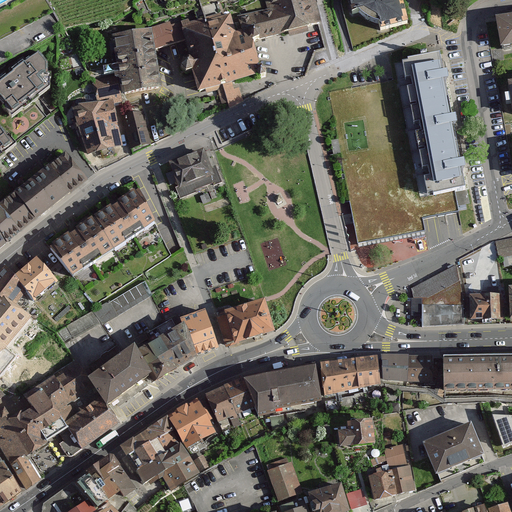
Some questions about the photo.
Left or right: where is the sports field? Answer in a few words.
right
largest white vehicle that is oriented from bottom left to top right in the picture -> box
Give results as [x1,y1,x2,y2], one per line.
[95,430,119,448]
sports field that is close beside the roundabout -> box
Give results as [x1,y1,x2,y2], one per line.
[330,67,458,250]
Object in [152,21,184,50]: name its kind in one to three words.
shed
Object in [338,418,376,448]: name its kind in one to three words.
house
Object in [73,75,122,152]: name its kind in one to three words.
house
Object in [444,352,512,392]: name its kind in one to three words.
building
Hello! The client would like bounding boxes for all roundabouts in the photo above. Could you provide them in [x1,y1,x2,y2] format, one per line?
[300,278,375,352]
